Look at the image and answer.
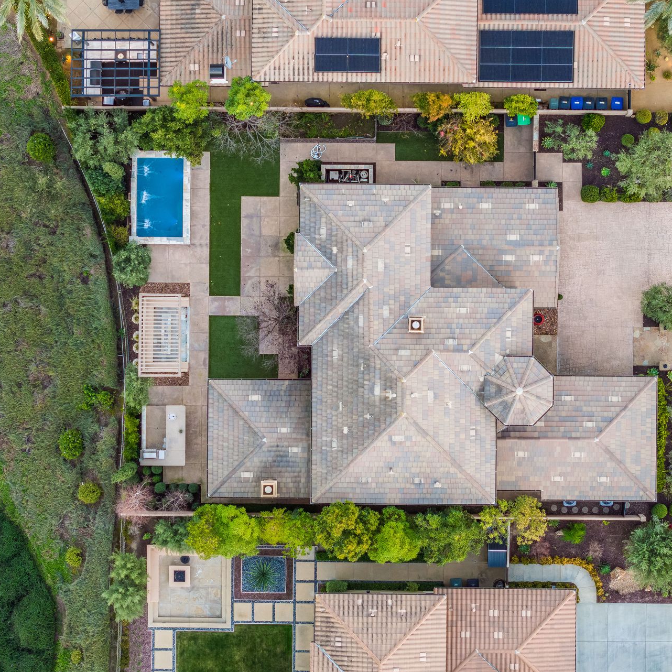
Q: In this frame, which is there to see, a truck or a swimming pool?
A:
swimming pool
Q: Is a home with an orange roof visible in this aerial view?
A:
No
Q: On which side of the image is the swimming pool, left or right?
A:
left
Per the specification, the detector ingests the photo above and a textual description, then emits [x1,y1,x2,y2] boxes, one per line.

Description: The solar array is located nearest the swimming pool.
[315,38,381,72]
